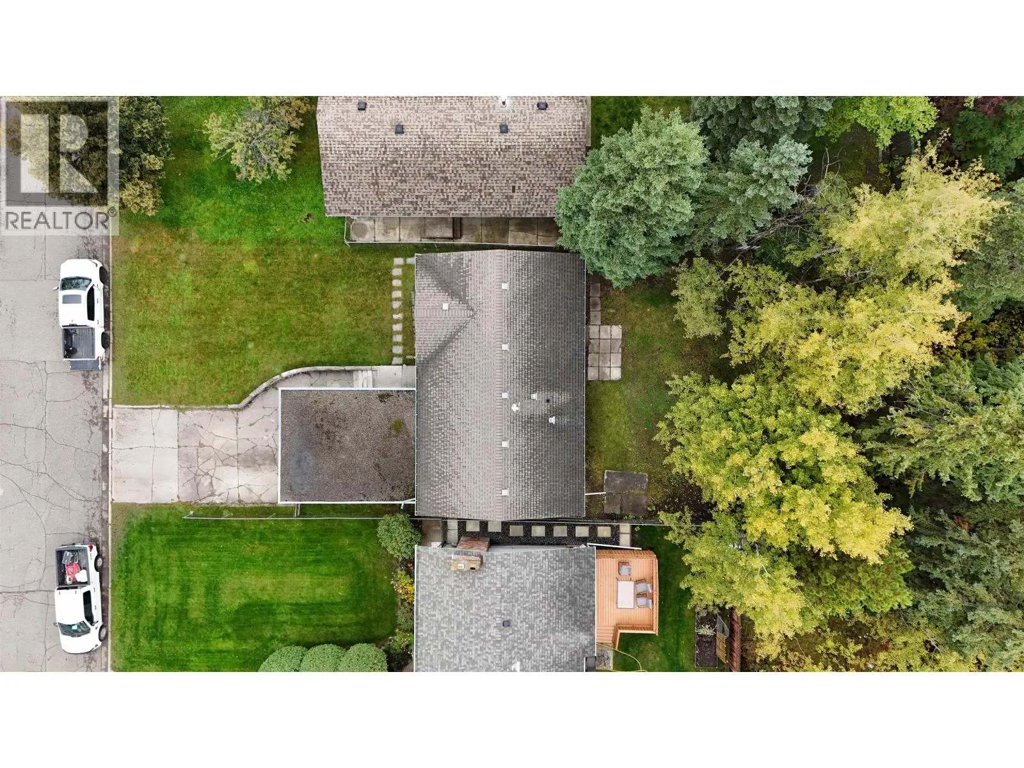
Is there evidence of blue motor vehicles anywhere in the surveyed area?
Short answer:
No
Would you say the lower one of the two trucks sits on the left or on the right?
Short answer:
left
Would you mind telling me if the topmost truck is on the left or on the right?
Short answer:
left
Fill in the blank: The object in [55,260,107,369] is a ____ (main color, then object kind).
white truck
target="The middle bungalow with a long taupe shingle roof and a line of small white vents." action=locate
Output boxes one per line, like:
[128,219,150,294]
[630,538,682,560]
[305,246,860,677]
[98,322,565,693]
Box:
[403,249,604,521]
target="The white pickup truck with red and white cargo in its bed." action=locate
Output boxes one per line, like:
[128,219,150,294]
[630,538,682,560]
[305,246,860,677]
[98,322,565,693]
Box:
[56,541,109,653]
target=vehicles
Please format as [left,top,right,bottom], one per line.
[56,541,109,653]
[55,260,107,369]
